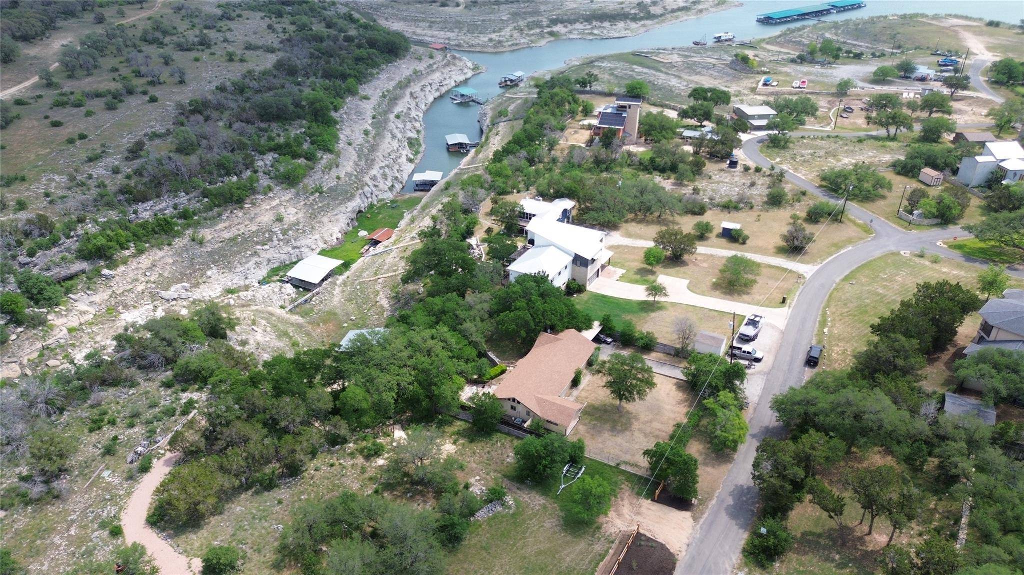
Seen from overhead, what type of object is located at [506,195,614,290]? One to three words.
house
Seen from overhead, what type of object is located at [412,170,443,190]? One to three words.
pier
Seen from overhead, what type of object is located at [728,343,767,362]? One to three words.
vehicle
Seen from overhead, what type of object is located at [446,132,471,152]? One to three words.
pier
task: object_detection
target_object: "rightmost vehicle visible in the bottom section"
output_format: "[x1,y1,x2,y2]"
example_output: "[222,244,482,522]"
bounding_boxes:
[807,345,824,364]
